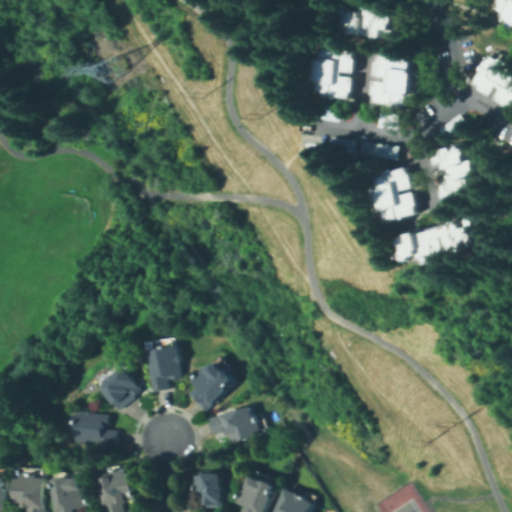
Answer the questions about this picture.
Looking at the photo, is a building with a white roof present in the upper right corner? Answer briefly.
Yes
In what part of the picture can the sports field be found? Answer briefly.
left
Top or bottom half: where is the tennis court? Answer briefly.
bottom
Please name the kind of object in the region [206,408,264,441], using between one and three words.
house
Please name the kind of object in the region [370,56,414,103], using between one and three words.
building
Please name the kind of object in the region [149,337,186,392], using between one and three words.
house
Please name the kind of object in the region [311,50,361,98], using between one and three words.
building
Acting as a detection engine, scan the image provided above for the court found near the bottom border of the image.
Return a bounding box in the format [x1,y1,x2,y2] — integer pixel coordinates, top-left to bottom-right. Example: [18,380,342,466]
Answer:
[378,483,430,512]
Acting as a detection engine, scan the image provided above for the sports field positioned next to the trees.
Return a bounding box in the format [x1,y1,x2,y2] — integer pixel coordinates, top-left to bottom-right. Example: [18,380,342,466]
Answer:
[0,158,110,362]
